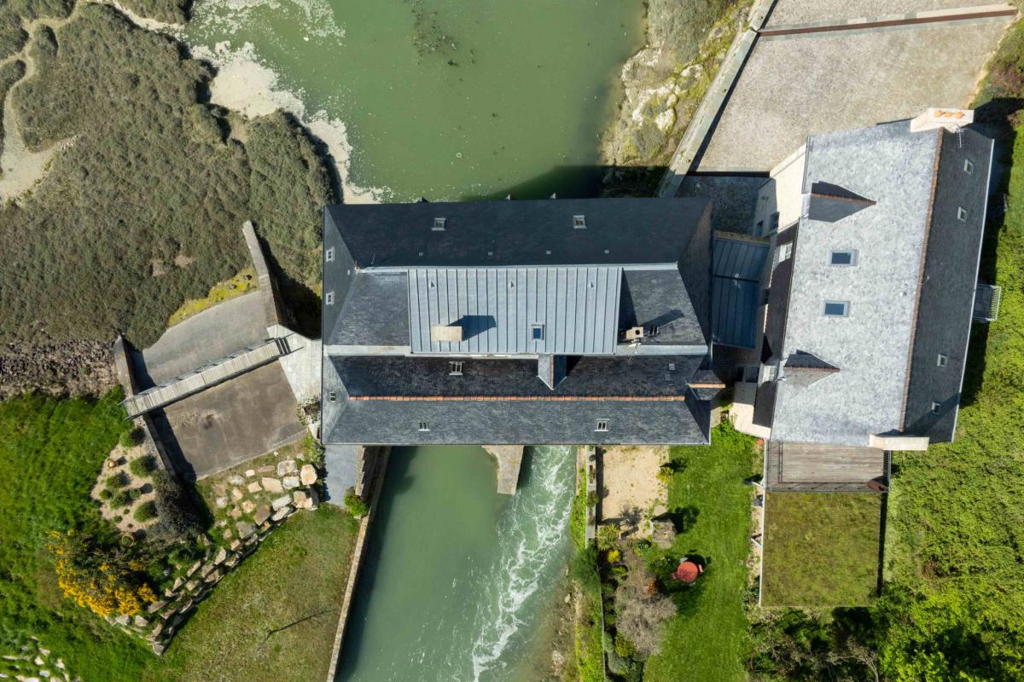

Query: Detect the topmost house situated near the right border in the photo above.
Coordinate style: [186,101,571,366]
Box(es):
[717,107,1004,454]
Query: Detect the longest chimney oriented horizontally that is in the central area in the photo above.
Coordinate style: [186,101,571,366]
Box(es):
[431,326,463,340]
